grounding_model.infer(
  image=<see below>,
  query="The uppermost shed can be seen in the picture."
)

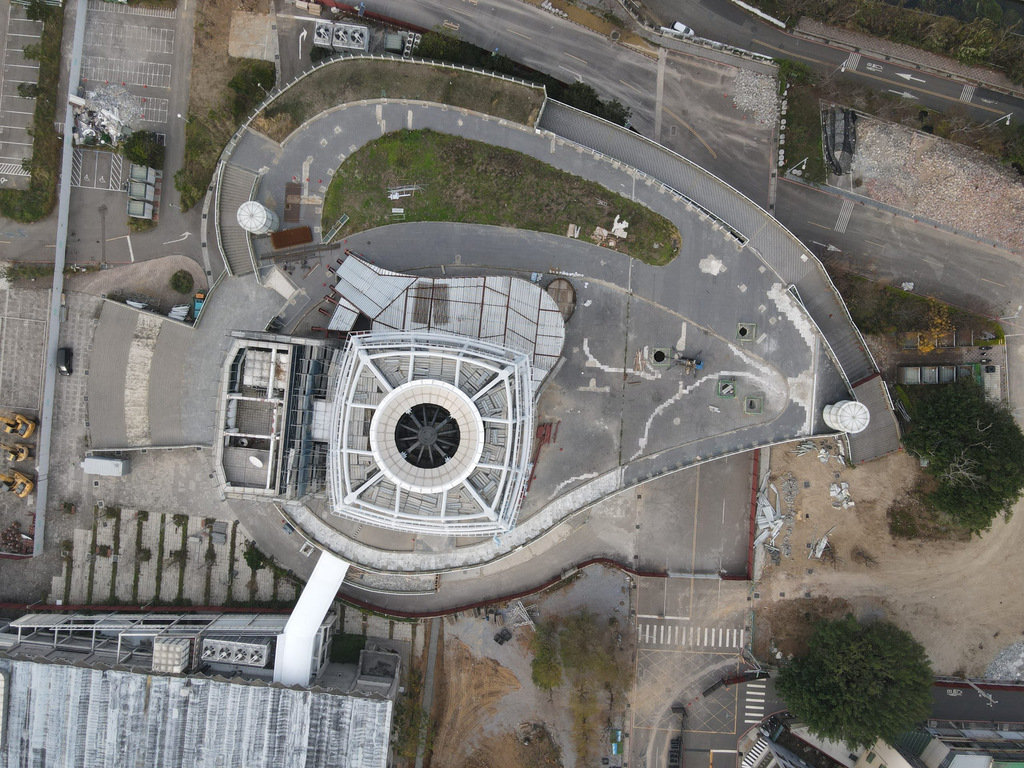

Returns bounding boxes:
[384,34,404,55]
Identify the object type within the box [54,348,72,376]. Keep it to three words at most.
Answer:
car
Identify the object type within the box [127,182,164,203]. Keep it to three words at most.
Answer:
shed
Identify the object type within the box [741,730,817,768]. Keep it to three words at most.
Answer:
house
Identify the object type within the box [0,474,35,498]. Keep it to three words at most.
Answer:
work vehicle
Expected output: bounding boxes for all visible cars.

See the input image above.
[54,348,72,376]
[670,16,698,38]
